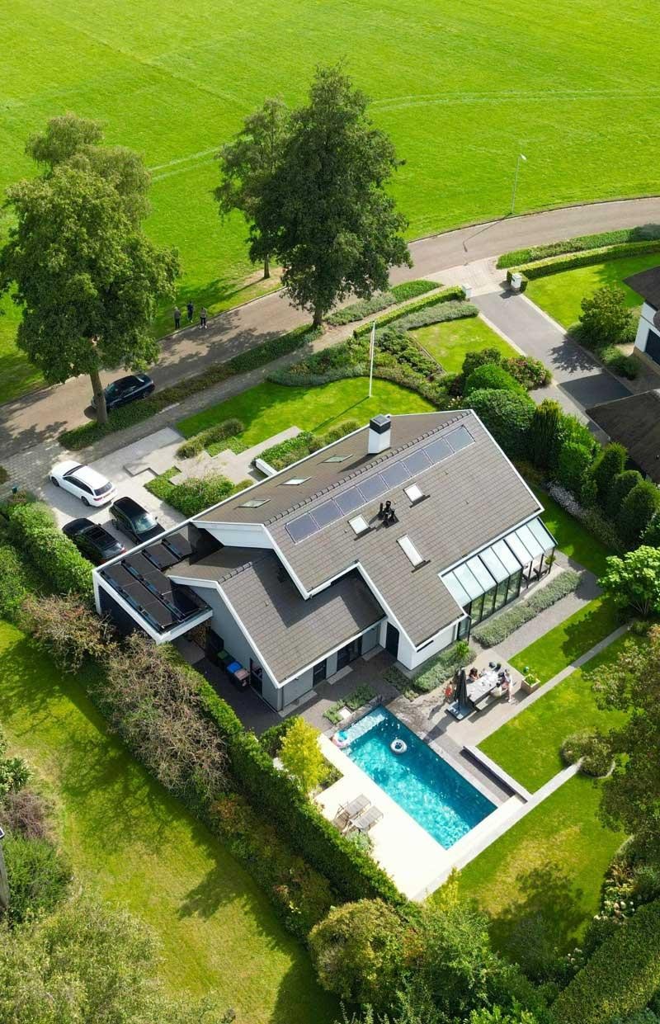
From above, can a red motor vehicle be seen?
No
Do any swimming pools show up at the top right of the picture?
No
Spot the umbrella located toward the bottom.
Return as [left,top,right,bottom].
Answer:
[445,670,475,722]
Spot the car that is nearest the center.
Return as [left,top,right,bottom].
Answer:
[108,496,165,547]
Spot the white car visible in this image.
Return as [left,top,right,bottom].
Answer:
[49,463,115,510]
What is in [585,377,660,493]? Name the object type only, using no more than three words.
house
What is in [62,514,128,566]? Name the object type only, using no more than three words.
car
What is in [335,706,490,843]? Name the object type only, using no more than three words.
swimming pool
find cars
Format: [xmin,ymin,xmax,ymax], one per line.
[102,377,158,415]
[108,496,165,547]
[49,463,115,510]
[62,514,128,566]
